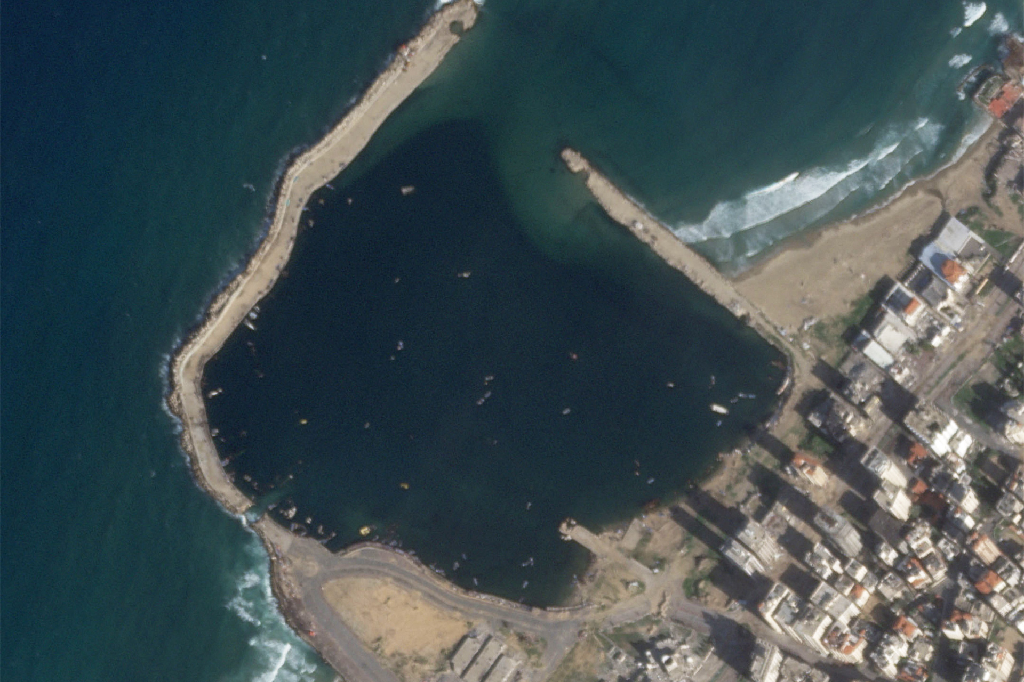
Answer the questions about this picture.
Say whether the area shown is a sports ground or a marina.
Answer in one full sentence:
It's a marina.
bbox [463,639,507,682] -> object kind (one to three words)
shed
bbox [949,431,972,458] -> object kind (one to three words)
building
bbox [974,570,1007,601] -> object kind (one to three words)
house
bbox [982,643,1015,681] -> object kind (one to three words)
building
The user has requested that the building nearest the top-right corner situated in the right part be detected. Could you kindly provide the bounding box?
[989,82,1022,119]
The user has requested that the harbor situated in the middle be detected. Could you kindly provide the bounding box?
[201,44,794,608]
